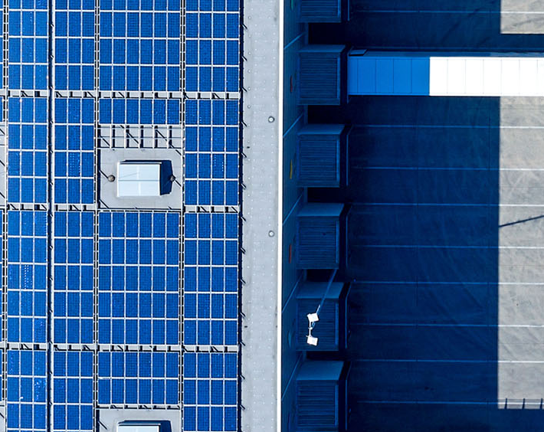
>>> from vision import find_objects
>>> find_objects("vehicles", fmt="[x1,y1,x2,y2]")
[346,52,544,97]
